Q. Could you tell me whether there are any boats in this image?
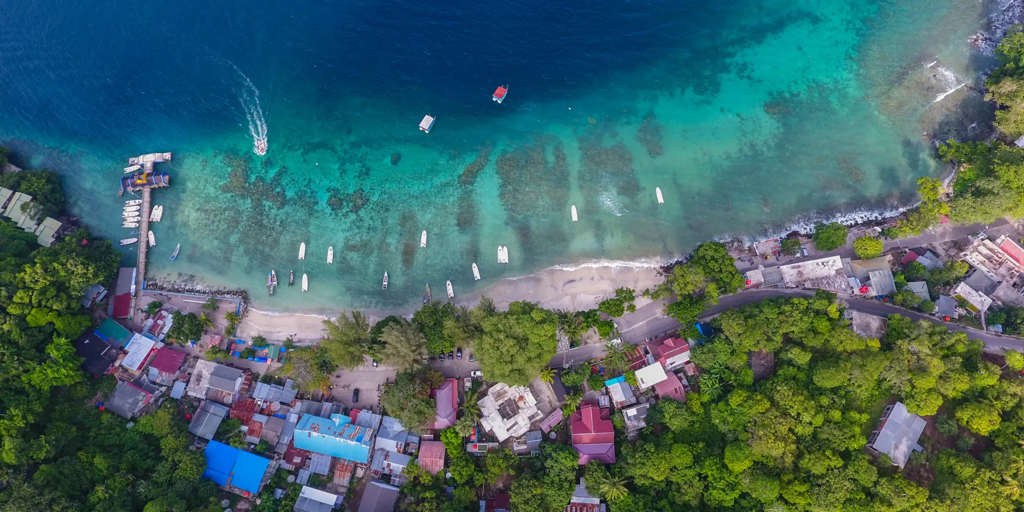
Yes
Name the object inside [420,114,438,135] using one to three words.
boat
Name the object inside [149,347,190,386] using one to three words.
house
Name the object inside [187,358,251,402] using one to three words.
house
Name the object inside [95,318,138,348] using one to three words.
building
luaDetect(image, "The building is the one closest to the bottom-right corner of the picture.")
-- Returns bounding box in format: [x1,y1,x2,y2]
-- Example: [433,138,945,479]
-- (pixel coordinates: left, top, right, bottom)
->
[867,402,927,468]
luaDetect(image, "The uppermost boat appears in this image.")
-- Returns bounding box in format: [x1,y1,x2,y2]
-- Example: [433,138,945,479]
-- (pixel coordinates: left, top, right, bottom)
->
[492,85,512,106]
